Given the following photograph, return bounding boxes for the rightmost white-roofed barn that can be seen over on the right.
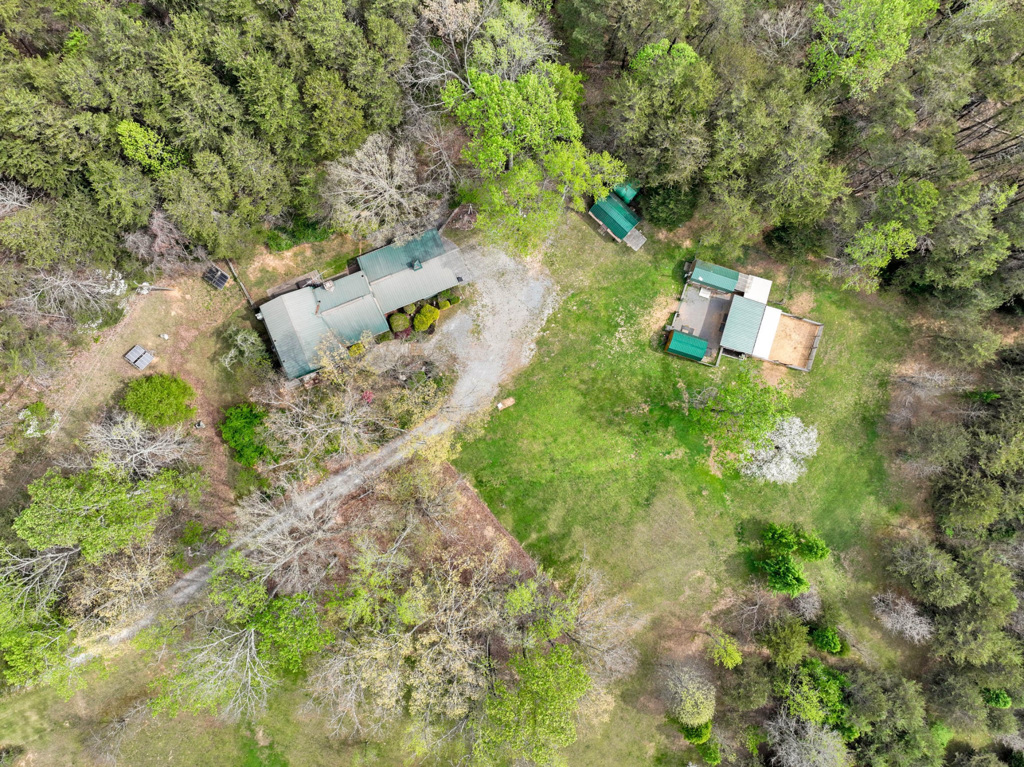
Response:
[713,273,782,359]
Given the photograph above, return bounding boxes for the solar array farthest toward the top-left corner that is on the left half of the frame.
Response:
[204,264,230,289]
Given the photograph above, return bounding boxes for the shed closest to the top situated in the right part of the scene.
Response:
[588,191,641,243]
